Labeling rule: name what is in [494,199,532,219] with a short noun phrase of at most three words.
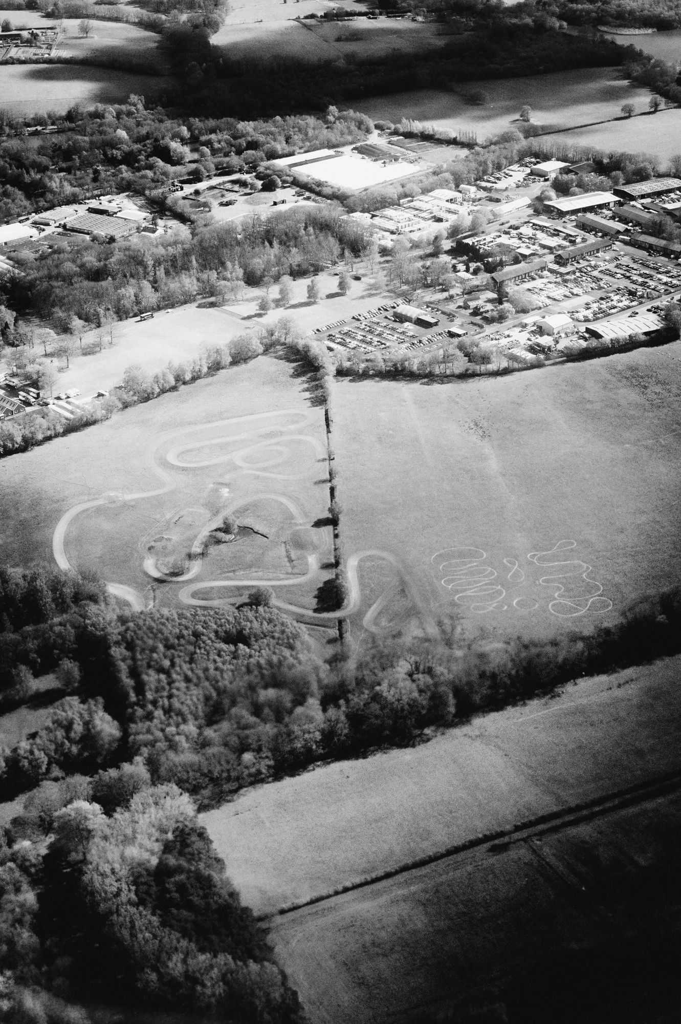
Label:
shed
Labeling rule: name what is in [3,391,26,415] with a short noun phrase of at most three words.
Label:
barn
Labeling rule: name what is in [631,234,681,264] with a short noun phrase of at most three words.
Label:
shed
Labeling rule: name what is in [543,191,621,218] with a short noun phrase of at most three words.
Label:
building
